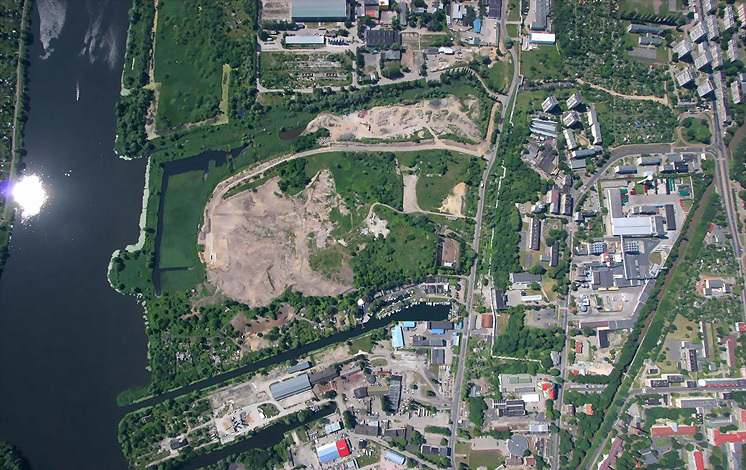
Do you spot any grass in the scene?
Yes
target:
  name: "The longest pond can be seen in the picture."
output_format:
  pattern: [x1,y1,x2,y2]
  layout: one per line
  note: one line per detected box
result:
[152,146,245,295]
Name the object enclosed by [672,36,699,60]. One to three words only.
building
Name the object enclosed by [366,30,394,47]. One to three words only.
building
